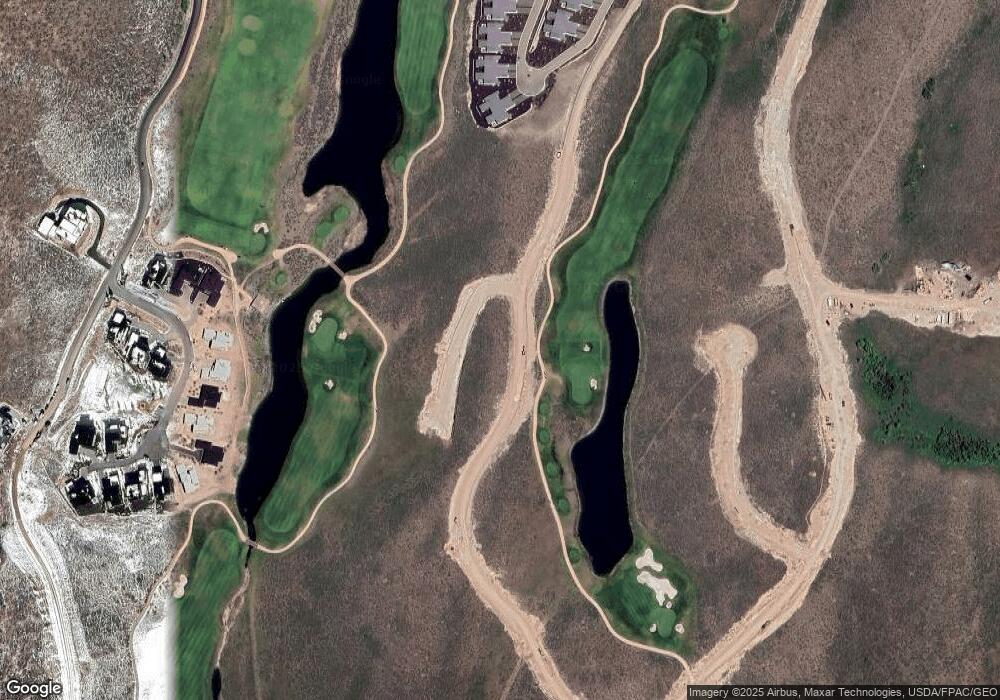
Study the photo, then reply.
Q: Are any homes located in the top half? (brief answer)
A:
Yes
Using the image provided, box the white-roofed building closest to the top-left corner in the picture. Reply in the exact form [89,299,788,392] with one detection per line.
[36,206,86,250]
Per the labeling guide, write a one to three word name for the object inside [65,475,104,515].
house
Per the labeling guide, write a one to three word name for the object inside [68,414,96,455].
house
